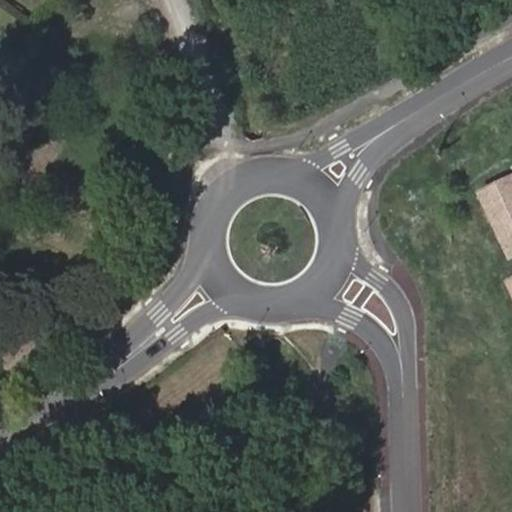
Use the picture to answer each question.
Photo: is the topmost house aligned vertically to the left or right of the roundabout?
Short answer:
on the right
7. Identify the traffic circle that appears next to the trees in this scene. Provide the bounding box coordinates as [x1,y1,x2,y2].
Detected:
[188,158,357,321]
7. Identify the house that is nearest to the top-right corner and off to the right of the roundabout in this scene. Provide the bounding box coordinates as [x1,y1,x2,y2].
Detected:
[476,176,512,261]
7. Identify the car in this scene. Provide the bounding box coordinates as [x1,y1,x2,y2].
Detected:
[146,340,165,357]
